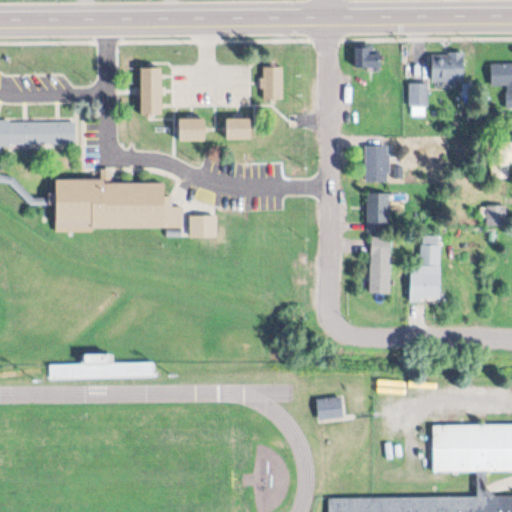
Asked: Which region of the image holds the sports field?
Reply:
bottom left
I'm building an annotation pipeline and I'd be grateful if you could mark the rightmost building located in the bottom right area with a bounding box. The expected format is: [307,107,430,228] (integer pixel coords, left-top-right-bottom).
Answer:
[432,424,512,475]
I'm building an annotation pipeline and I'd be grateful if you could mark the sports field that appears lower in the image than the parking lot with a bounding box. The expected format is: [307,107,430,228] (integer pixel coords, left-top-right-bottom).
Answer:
[0,406,241,512]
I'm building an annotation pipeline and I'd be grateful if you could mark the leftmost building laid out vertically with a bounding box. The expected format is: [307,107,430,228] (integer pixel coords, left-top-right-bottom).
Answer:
[140,67,162,115]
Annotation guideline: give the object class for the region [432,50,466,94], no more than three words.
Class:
house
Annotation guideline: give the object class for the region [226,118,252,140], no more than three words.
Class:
house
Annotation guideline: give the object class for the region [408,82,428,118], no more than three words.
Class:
building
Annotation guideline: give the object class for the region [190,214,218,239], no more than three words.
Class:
building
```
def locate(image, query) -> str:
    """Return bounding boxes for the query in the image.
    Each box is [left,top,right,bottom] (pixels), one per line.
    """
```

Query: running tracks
[0,386,315,512]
